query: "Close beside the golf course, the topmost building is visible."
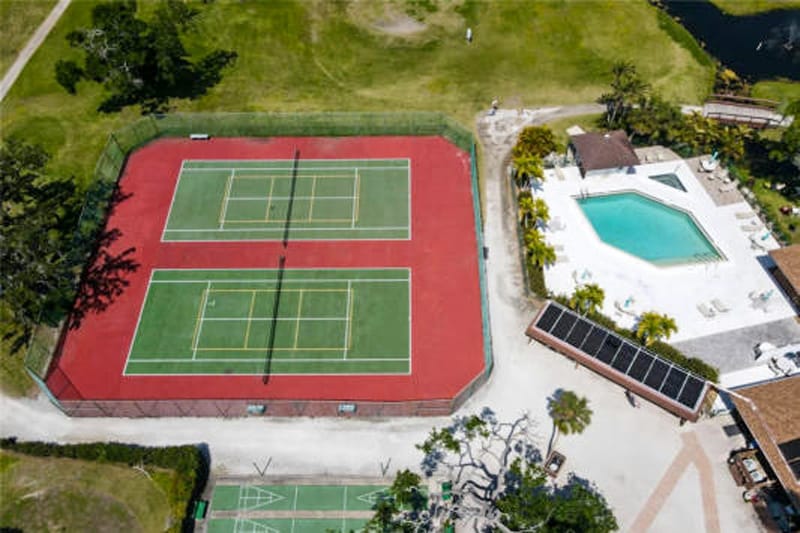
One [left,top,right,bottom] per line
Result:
[566,131,640,184]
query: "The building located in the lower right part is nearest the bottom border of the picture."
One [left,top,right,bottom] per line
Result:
[709,371,800,503]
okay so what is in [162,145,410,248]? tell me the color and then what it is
green tennis court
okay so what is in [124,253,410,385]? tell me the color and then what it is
green tennis court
